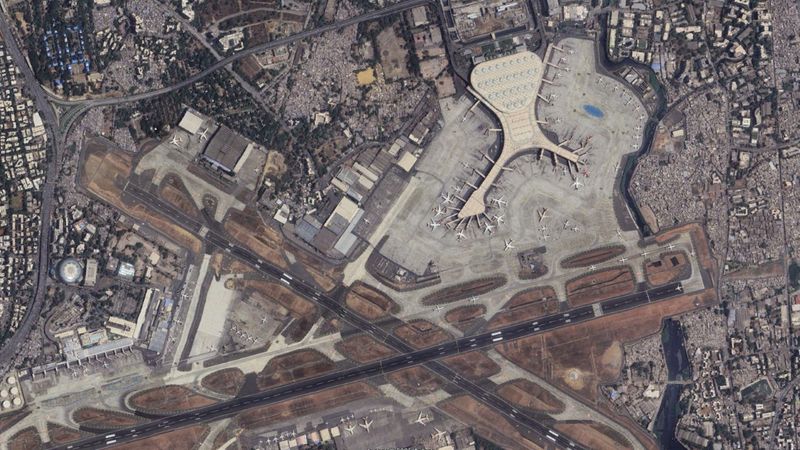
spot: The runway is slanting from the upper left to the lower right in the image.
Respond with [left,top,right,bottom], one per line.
[123,179,584,450]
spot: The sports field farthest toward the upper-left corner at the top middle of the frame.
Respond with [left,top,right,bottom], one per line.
[380,27,407,80]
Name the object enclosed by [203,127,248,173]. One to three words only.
hangar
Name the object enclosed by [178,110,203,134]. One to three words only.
hangar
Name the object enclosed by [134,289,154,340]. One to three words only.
building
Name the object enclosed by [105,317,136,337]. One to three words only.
building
